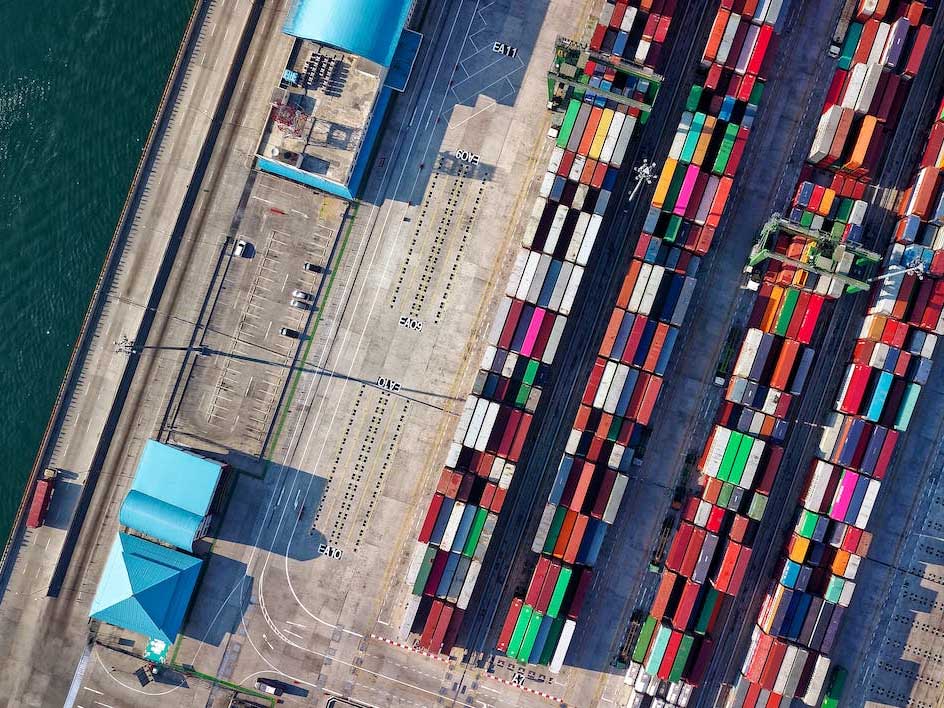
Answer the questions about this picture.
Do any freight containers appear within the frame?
Yes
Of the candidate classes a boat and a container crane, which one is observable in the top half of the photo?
container crane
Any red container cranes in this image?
No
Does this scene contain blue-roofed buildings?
Yes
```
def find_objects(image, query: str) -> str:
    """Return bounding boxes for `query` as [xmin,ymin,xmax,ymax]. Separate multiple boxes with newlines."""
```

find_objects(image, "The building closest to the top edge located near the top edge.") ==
[281,0,429,99]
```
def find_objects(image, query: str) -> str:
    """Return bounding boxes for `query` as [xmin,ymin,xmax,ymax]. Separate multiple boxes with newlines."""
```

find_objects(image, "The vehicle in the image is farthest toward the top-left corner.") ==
[231,238,246,259]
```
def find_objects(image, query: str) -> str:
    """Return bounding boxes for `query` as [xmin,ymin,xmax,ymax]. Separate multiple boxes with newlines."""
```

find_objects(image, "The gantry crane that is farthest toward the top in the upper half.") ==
[543,37,667,145]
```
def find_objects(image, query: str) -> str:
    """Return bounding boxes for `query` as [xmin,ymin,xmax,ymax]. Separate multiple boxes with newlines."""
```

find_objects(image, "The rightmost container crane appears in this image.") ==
[738,214,890,304]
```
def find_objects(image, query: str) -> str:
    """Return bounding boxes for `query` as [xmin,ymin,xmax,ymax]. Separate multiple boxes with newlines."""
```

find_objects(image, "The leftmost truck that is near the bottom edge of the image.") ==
[255,675,287,696]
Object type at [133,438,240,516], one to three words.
building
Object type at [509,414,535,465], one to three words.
shipping container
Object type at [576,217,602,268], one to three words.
shipping container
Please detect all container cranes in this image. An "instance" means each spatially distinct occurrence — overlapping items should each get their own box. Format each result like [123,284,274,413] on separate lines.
[543,37,667,145]
[738,214,890,304]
